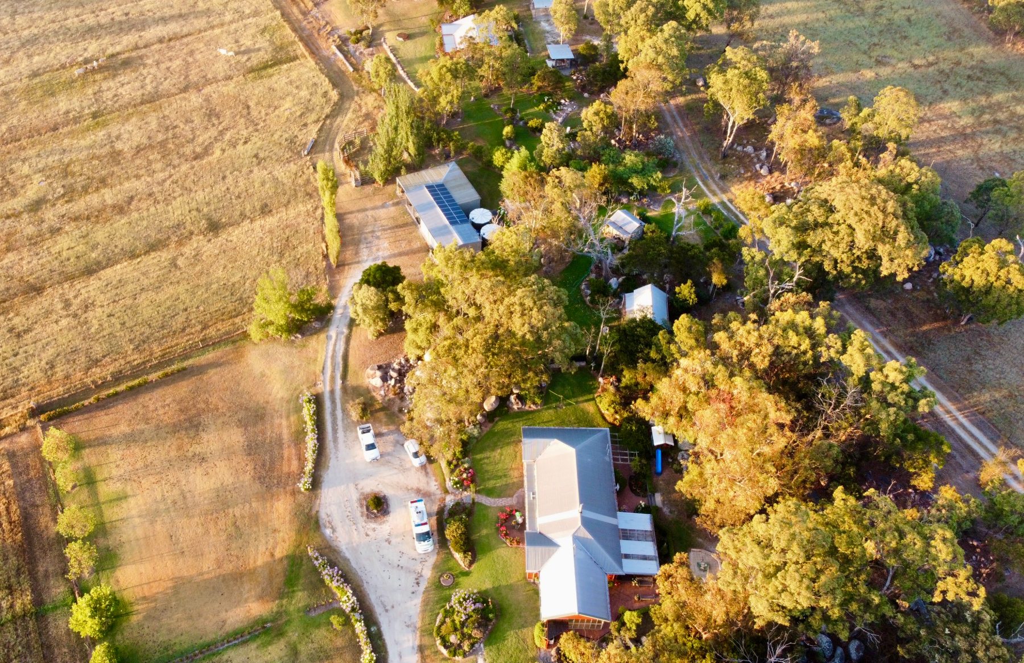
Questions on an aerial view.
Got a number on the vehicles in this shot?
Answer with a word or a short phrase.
three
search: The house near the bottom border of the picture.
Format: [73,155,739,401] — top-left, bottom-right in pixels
[520,427,662,657]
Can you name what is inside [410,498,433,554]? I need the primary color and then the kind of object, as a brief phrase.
white vehicle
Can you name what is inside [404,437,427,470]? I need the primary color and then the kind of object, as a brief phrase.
white car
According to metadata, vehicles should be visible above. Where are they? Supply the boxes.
[404,437,427,470]
[359,424,379,461]
[410,498,433,554]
